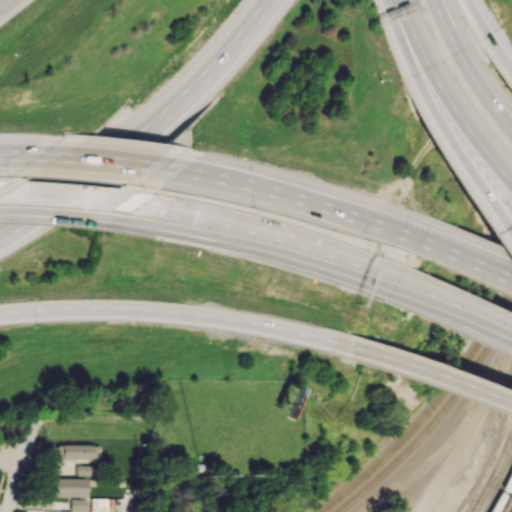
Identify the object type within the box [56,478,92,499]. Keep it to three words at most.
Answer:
house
